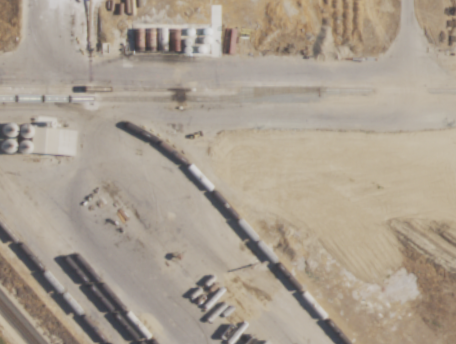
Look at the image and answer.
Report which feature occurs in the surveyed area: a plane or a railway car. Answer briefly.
railway car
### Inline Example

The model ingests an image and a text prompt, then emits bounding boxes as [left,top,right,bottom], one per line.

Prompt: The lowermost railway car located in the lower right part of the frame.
[328,318,355,344]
